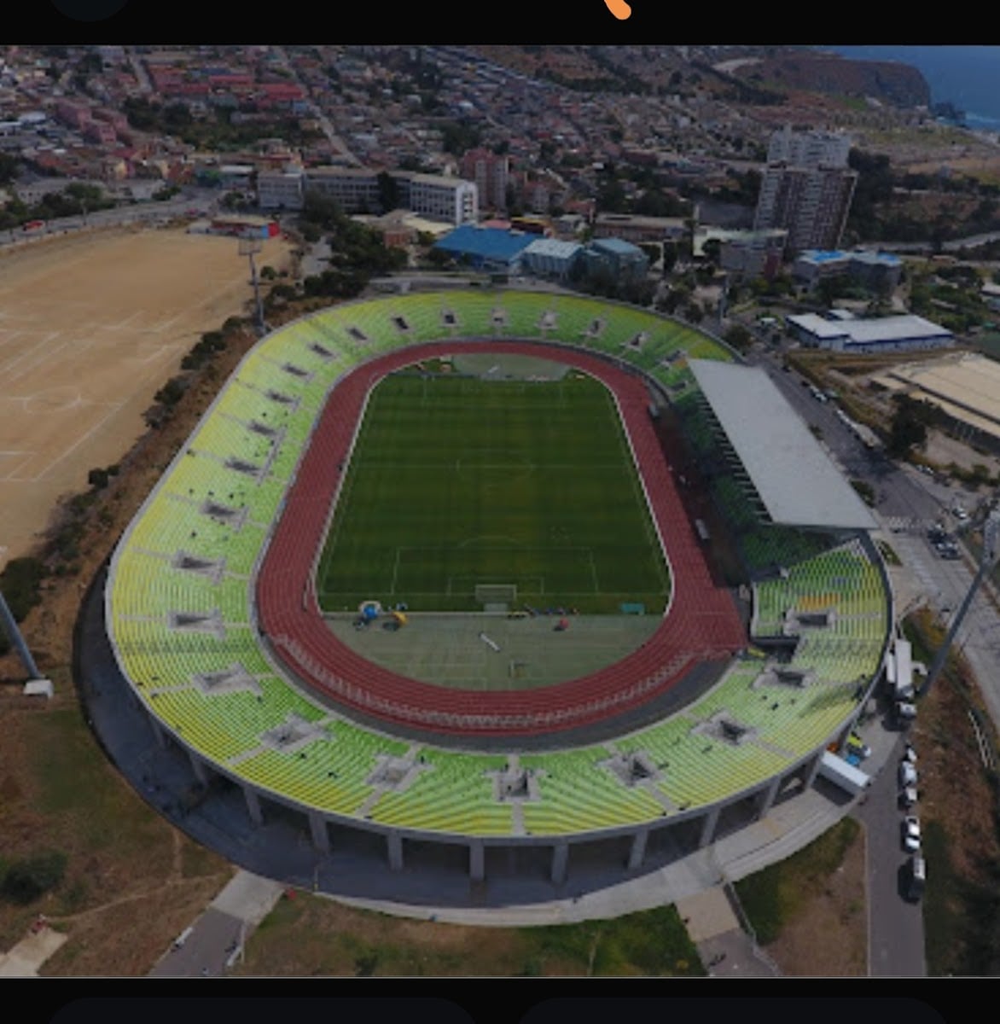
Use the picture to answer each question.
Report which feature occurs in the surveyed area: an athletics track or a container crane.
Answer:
athletics track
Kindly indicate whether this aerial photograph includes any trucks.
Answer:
Yes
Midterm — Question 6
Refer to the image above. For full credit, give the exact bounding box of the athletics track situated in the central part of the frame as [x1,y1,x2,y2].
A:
[264,343,726,735]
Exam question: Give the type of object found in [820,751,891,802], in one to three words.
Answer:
truck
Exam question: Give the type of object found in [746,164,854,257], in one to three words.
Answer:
building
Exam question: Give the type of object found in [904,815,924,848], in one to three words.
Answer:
car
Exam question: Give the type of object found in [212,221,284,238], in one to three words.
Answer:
building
